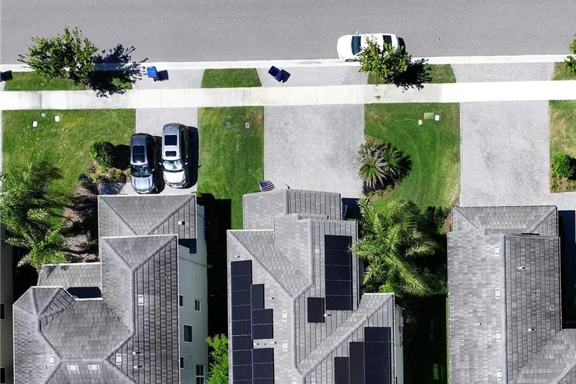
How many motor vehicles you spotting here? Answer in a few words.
3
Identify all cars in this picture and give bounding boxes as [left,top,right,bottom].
[155,124,191,191]
[124,134,159,193]
[339,31,401,63]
